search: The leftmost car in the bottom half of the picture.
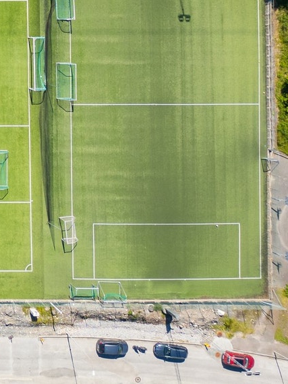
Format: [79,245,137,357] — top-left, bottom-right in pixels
[94,339,128,357]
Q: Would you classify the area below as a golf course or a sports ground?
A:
sports ground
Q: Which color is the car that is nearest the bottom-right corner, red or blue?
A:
red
